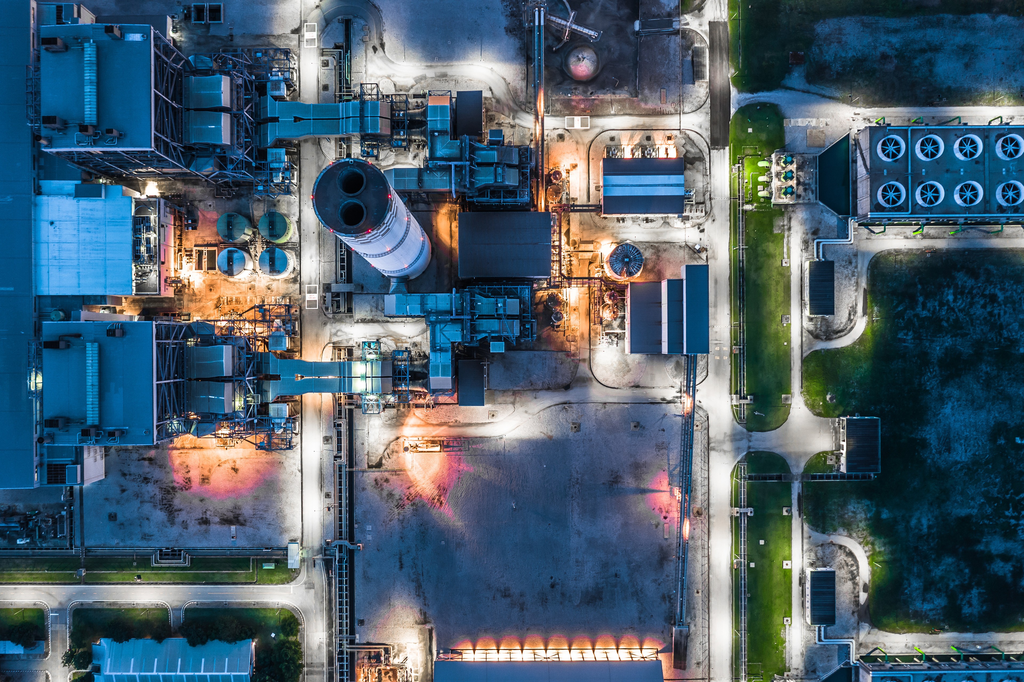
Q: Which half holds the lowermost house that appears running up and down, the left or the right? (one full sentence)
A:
The lowermost house that appears running up and down is on the right side of the image.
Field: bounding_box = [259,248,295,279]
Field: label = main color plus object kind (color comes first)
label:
blue storage tank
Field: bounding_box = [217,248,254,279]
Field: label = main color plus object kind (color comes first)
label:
blue storage tank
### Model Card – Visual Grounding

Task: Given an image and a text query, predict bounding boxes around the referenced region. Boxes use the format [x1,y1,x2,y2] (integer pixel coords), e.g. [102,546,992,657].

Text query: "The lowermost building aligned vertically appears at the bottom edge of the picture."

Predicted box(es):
[668,621,690,670]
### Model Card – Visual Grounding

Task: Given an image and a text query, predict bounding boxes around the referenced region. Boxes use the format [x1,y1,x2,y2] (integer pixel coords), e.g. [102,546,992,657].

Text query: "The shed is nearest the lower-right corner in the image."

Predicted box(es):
[805,567,836,625]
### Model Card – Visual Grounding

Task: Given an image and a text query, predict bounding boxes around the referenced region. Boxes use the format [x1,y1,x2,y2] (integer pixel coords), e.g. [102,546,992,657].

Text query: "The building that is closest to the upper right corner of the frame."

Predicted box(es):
[769,152,819,204]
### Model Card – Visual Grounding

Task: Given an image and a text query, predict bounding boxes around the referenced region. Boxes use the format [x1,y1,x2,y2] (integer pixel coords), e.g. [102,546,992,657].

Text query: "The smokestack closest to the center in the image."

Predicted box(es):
[310,158,431,274]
